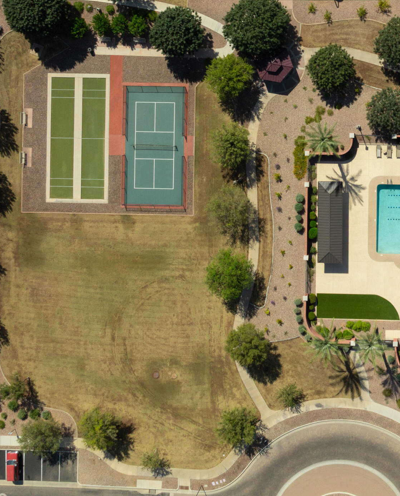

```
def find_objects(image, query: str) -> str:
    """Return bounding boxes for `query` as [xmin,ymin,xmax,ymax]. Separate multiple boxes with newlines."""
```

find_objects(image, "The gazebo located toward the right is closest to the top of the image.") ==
[254,44,305,96]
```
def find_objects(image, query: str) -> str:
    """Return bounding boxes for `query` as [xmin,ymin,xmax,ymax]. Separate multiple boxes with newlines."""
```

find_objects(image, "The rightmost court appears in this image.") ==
[109,56,194,210]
